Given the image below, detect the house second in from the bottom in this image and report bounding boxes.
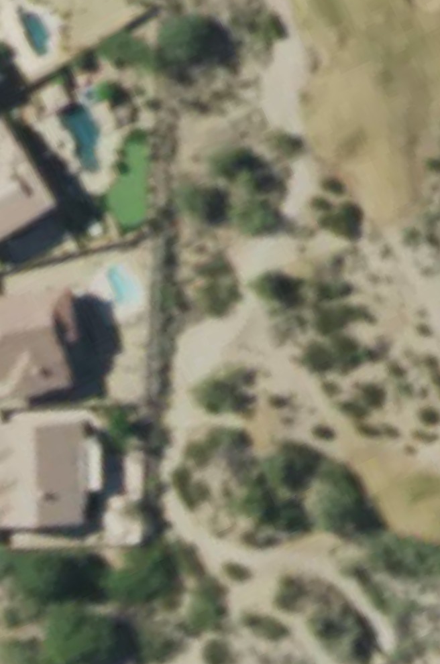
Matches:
[0,288,79,407]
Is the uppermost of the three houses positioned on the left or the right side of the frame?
left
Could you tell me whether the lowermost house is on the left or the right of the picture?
left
